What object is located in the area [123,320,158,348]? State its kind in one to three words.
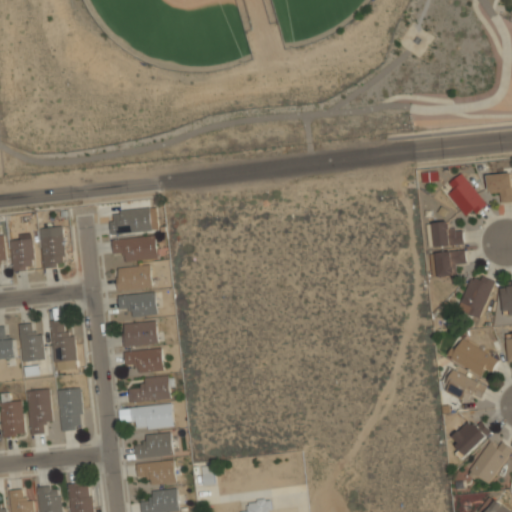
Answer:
house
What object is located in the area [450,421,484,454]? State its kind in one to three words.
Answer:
house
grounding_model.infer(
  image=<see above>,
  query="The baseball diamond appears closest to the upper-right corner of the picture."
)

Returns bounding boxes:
[271,0,372,48]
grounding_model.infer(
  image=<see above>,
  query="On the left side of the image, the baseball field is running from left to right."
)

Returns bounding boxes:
[83,0,252,72]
